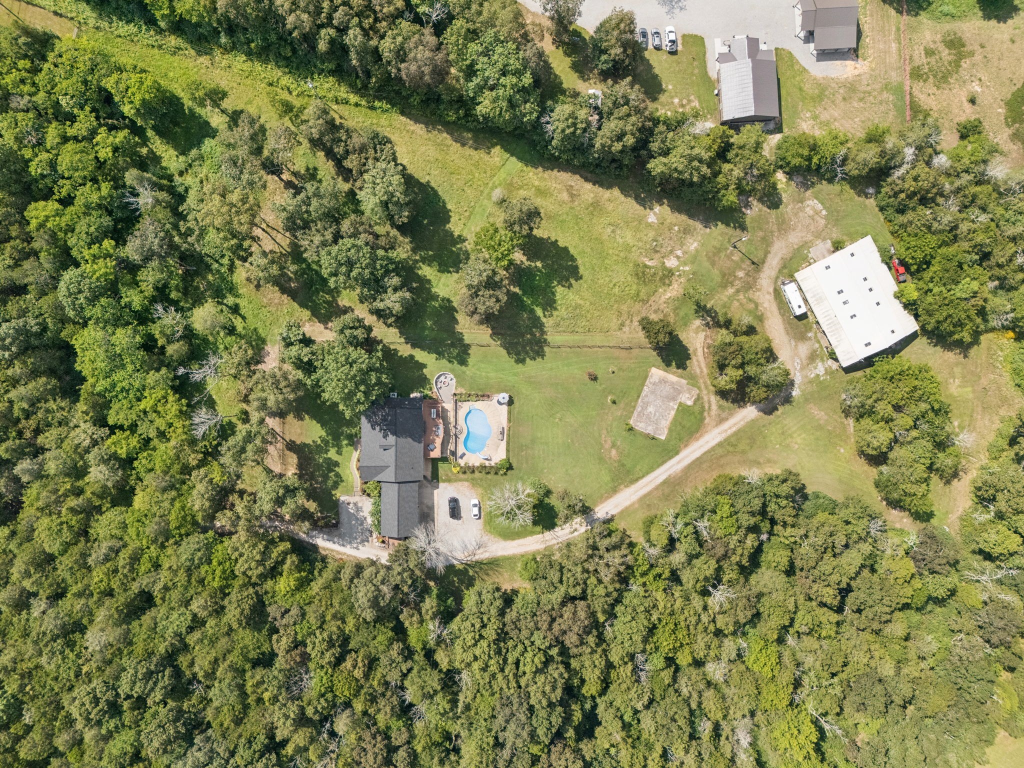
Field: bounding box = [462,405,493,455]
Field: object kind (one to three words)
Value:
swimming pool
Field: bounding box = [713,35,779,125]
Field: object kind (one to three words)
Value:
house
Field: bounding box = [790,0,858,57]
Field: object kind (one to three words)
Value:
house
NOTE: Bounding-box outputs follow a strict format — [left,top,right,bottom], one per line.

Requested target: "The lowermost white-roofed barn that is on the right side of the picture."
[790,235,918,368]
